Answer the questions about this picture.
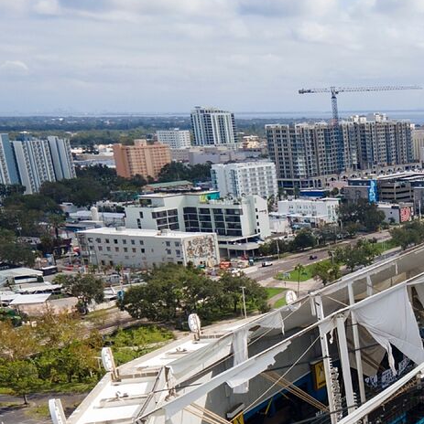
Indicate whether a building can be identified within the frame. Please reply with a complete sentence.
Yes, I can see a building in this picture.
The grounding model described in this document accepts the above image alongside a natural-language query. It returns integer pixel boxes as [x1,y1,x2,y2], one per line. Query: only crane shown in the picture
[294,83,420,137]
